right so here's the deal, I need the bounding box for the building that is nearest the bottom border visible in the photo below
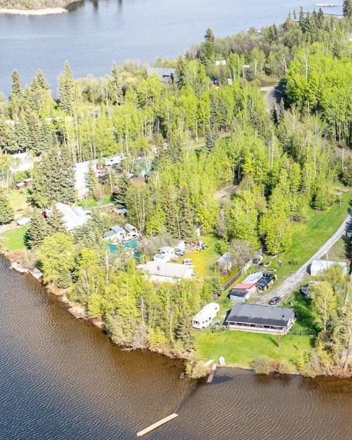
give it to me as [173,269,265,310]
[225,304,300,339]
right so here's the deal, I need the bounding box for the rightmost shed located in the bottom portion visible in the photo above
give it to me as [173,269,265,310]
[312,259,351,278]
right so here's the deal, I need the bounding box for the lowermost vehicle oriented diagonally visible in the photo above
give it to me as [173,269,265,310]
[193,303,217,330]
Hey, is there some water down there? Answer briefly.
Yes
